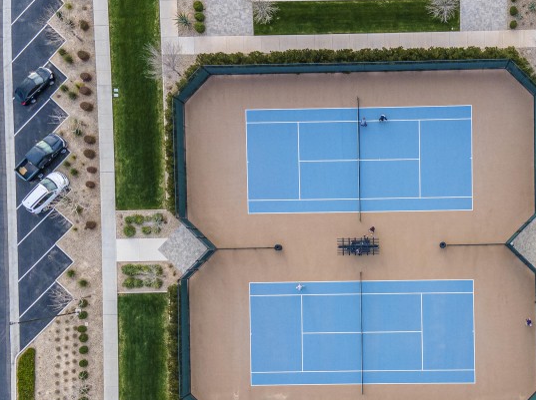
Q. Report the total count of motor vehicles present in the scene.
three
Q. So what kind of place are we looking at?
sports ground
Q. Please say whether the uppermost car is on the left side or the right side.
left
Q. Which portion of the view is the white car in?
left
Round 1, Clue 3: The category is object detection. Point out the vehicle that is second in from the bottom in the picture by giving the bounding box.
[14,130,69,183]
